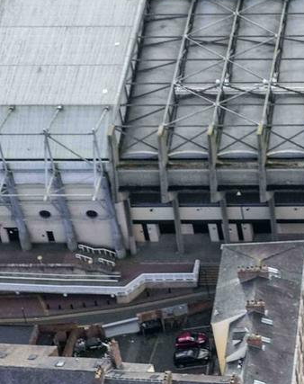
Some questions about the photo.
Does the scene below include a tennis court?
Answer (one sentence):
No, no tennis court is visible in the scene.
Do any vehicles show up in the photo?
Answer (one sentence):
Yes, this view includes a vehicle.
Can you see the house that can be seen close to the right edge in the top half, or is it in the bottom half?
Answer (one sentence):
The house that can be seen close to the right edge sits in the bottom half of the picture.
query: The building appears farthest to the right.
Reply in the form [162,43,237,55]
[211,238,304,384]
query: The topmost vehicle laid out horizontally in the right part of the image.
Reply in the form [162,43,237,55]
[171,329,209,349]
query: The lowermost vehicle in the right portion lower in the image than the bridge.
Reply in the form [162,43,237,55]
[171,345,209,366]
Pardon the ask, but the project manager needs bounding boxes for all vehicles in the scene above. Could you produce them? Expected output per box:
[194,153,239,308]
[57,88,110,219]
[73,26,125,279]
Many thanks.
[171,329,209,349]
[171,345,209,366]
[79,338,110,357]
